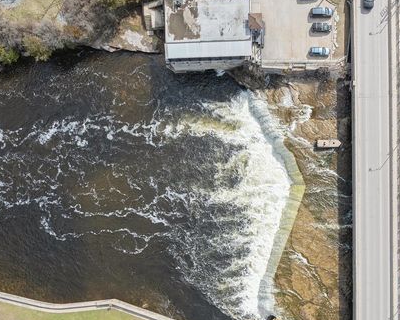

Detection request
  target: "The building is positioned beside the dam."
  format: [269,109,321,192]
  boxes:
[164,0,253,76]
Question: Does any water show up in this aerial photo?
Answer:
Yes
